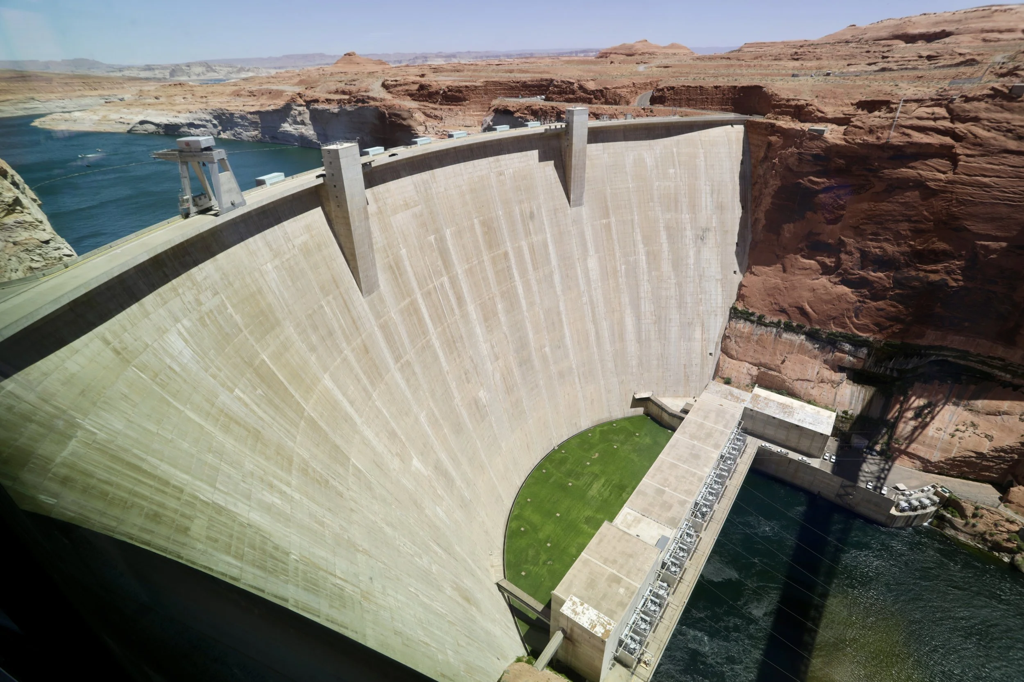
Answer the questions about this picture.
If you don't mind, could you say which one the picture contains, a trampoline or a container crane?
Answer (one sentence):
Looking from above, you can make out a container crane.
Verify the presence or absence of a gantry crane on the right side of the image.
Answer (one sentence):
No, the scene shows no gantry crane on the right side of the image.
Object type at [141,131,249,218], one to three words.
container crane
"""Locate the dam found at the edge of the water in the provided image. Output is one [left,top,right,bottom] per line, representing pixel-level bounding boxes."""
[0,114,761,682]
